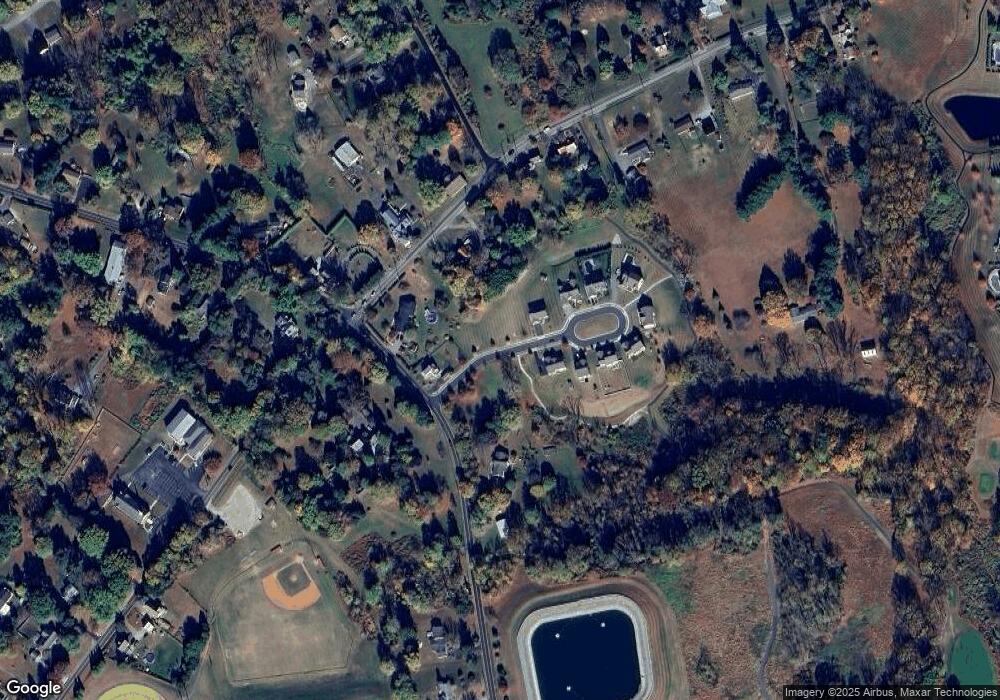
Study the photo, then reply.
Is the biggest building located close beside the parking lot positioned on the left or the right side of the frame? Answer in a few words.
left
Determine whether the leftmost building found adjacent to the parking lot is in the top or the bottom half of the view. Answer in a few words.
bottom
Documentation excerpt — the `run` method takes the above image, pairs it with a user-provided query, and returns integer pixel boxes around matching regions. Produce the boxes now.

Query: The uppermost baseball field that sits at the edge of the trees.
[217,539,351,681]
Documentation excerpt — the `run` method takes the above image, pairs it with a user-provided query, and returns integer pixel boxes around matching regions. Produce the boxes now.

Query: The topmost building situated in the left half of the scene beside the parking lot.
[164,409,214,456]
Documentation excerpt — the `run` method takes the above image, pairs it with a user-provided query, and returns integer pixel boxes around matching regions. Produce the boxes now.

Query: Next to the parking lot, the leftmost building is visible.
[112,489,151,522]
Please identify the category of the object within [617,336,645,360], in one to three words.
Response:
house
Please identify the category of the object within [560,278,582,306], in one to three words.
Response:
house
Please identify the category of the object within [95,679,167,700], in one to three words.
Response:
baseball field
